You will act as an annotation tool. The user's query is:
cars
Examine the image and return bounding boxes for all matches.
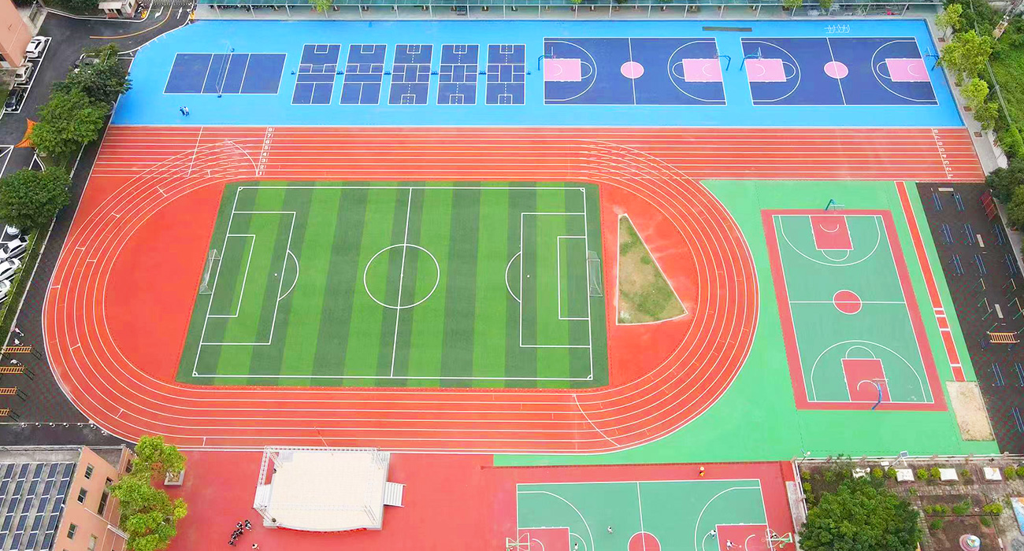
[0,255,25,278]
[0,233,32,261]
[11,62,36,83]
[22,36,48,58]
[0,217,29,242]
[0,276,16,296]
[0,86,27,110]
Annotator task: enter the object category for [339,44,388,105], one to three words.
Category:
sports court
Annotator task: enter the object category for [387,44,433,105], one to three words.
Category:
sports court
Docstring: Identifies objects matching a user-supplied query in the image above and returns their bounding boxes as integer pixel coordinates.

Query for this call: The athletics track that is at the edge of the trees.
[41,126,983,456]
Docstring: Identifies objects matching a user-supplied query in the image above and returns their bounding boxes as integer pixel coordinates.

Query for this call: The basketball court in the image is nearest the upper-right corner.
[741,37,939,105]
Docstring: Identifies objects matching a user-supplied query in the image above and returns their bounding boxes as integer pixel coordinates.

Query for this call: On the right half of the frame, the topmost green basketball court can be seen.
[761,209,948,412]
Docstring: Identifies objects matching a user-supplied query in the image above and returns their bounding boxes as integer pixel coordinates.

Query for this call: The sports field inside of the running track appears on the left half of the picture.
[174,182,609,386]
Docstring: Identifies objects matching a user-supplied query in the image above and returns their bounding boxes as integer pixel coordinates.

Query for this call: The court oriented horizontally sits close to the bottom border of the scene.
[517,479,772,551]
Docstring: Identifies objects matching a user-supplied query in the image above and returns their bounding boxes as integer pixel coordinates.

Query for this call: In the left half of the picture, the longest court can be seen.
[163,53,287,94]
